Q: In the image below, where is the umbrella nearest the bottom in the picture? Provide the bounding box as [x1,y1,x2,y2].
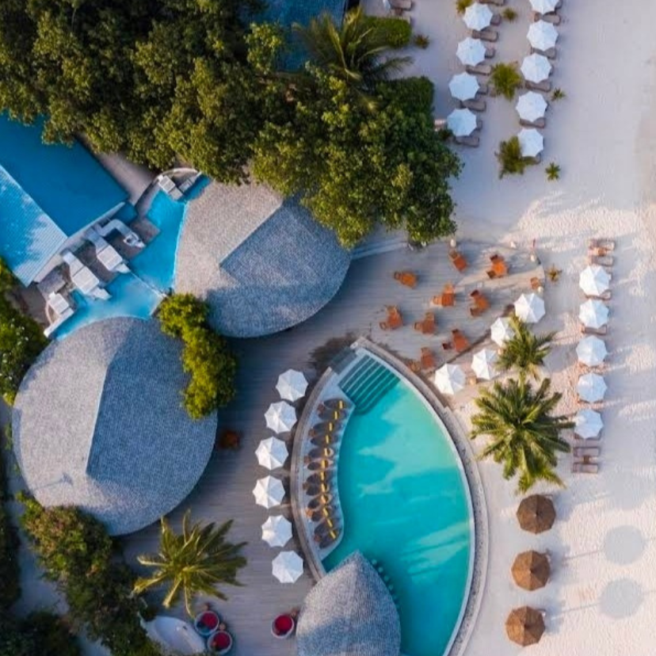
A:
[505,605,546,646]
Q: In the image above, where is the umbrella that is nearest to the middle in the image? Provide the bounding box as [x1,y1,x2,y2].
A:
[276,369,309,402]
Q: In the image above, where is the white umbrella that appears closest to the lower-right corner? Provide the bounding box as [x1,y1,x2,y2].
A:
[572,408,604,438]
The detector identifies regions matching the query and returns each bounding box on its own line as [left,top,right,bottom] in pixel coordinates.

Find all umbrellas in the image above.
[469,347,500,380]
[261,516,293,547]
[434,363,466,394]
[529,0,560,17]
[505,605,546,646]
[579,300,610,329]
[265,401,297,432]
[488,316,518,347]
[254,475,284,505]
[527,22,557,52]
[510,549,550,590]
[259,438,289,468]
[462,2,492,34]
[577,334,607,366]
[446,107,477,137]
[522,53,553,84]
[579,265,611,296]
[513,291,545,323]
[517,129,545,157]
[272,549,303,581]
[517,92,547,123]
[516,492,556,533]
[576,373,606,403]
[276,369,309,402]
[447,70,480,102]
[572,408,604,438]
[456,36,486,65]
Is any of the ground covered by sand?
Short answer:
Yes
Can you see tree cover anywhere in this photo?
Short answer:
Yes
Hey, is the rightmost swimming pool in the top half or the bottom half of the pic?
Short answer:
bottom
